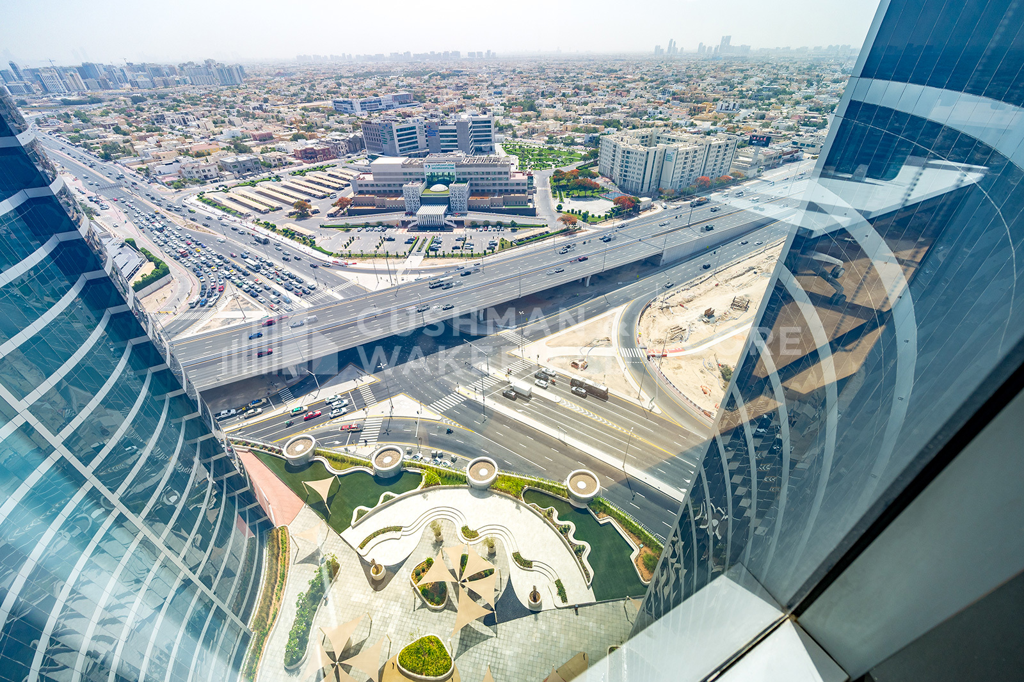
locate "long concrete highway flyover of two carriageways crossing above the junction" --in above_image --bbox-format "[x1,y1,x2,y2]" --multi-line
[170,146,831,392]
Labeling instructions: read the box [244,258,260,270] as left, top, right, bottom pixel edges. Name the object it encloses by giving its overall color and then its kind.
white vehicle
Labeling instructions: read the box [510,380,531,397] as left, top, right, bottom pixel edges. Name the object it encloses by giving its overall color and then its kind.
white vehicle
